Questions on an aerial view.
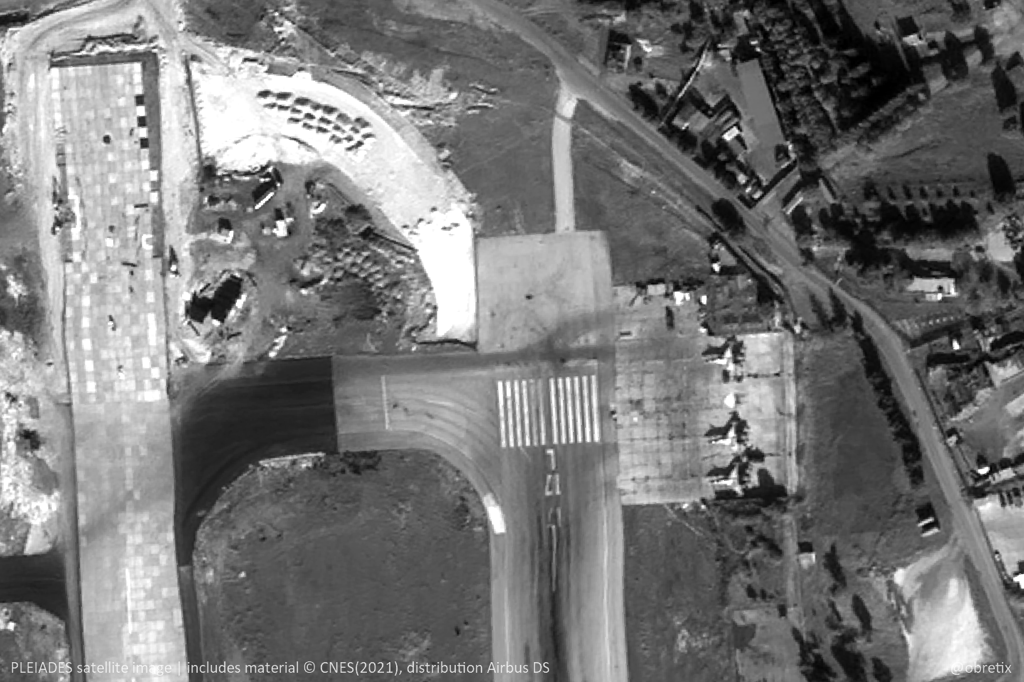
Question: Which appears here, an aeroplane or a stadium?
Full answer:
Looking from above, you can make out an aeroplane.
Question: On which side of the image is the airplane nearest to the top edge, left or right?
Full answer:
The airplane nearest to the top edge appears in the right half of the scene.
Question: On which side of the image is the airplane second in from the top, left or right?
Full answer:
You can find the airplane second in from the top on the right side of the picture.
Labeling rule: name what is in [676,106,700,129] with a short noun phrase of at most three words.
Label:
house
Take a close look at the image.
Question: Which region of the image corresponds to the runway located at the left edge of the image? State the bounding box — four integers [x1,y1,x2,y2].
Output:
[51,62,190,682]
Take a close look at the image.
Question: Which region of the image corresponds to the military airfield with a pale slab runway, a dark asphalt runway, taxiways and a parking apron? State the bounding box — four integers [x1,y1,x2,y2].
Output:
[0,62,798,682]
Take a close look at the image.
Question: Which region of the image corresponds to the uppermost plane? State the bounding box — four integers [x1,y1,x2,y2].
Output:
[706,348,745,373]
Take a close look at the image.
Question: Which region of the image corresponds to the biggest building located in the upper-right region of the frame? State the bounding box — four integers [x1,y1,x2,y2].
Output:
[738,59,785,151]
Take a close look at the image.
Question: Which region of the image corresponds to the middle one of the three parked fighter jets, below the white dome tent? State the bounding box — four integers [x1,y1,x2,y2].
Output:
[712,427,750,452]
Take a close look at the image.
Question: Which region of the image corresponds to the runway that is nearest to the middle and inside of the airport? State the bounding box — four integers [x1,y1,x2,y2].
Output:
[491,346,628,682]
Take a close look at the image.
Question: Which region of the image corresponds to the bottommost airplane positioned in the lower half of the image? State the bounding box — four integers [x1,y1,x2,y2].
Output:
[713,469,752,494]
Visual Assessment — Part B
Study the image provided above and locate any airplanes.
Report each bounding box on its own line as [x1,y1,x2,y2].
[713,469,752,494]
[712,427,750,452]
[706,348,745,373]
